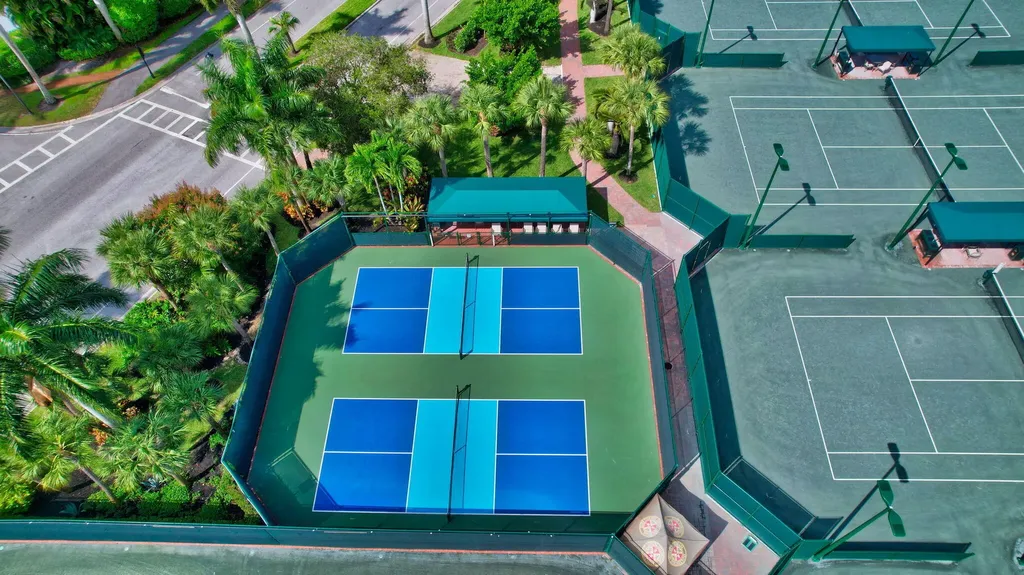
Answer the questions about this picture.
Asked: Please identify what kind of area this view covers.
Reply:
sports ground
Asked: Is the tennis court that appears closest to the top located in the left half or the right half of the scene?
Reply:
right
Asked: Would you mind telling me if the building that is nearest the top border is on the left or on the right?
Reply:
right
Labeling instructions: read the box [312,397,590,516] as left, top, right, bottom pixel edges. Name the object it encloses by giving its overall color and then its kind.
blue sports court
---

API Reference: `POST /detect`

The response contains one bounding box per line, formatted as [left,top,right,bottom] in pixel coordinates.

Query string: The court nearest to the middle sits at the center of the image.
[343,267,583,354]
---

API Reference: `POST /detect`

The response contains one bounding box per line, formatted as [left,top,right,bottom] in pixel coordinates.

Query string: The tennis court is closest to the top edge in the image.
[638,0,1024,68]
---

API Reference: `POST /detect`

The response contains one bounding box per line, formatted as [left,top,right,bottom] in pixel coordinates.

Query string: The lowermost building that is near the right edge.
[907,203,1024,270]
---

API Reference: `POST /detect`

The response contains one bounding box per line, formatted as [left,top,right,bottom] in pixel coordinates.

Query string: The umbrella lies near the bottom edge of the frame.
[621,495,710,575]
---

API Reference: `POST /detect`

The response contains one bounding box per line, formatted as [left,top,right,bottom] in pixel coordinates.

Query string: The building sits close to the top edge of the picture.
[830,26,936,81]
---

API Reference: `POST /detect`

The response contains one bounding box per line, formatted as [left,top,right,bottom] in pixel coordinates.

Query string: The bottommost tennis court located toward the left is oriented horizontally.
[0,544,627,575]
